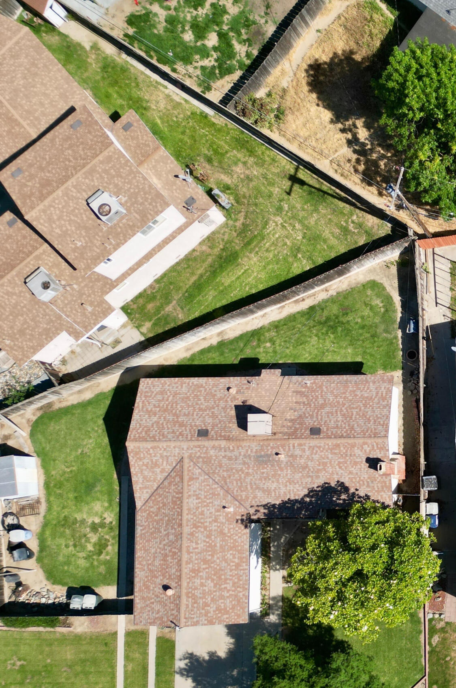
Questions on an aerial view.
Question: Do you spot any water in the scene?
No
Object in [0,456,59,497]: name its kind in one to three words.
shed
